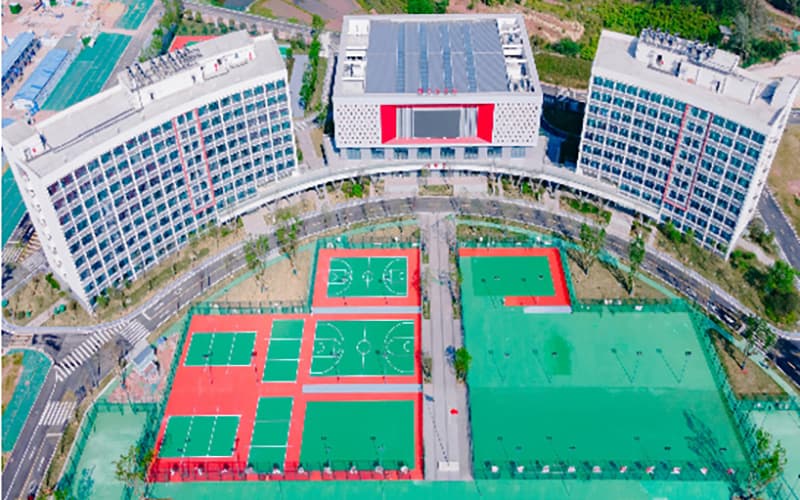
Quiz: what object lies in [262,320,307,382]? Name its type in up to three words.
sports court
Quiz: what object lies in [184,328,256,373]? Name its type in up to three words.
sports court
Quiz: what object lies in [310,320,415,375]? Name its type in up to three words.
basketball court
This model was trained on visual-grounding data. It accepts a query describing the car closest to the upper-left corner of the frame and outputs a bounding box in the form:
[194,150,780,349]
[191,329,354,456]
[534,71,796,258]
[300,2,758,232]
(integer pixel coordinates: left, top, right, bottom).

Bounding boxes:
[20,227,36,241]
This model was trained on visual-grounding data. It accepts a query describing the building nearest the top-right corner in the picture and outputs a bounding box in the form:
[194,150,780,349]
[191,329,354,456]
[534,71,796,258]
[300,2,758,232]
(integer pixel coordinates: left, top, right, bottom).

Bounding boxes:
[573,25,800,254]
